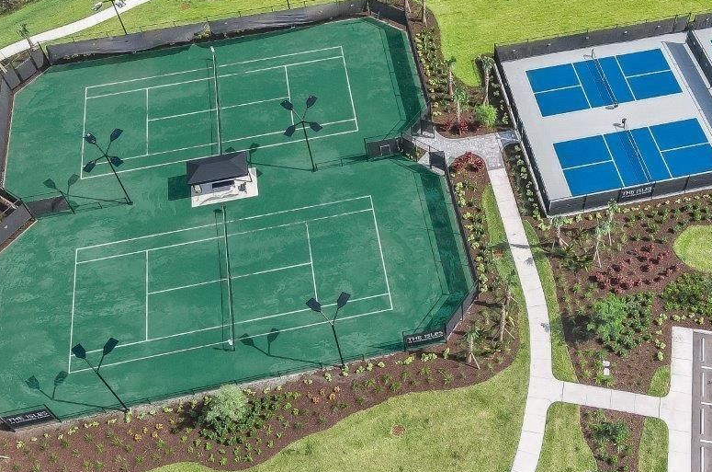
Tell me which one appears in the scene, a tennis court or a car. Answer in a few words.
tennis court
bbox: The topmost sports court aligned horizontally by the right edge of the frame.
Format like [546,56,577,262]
[525,48,684,117]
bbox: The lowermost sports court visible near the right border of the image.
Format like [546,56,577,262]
[552,117,712,196]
